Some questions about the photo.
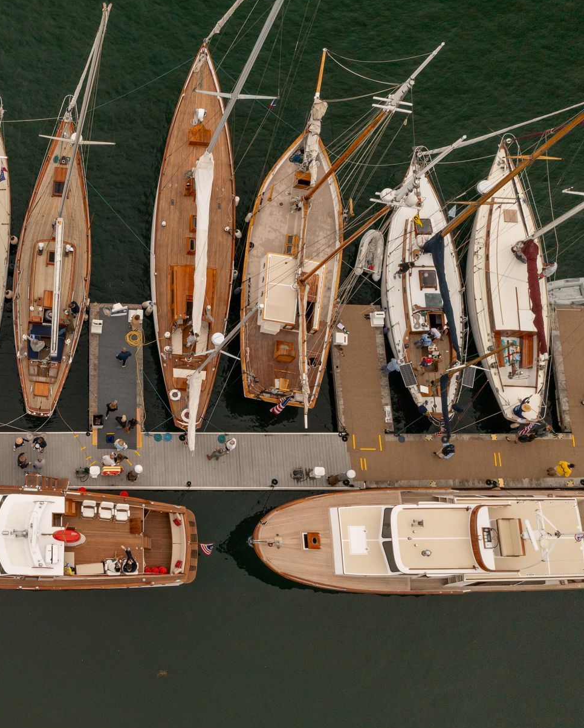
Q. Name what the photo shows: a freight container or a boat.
boat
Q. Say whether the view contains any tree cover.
No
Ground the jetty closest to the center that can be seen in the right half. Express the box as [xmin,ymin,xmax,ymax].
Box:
[333,305,393,433]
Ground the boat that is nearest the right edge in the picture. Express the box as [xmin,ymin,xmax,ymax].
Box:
[548,276,584,306]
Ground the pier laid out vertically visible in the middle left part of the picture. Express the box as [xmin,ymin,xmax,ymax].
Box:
[88,304,143,433]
